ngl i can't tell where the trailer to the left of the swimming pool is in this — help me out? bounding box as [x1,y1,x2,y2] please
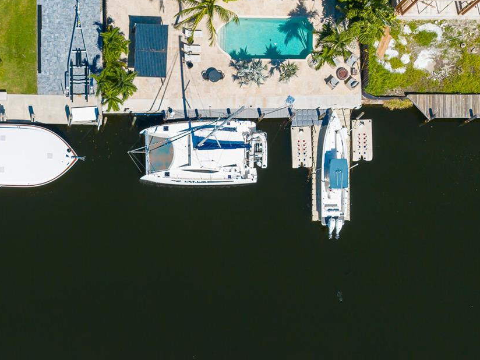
[63,0,93,101]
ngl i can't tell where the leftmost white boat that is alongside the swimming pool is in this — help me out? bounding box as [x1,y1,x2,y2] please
[128,105,257,185]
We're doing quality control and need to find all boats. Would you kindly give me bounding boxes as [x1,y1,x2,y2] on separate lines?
[252,130,268,169]
[128,105,257,185]
[315,112,358,242]
[0,122,85,186]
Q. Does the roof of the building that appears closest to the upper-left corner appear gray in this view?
No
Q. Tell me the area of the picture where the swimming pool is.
top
